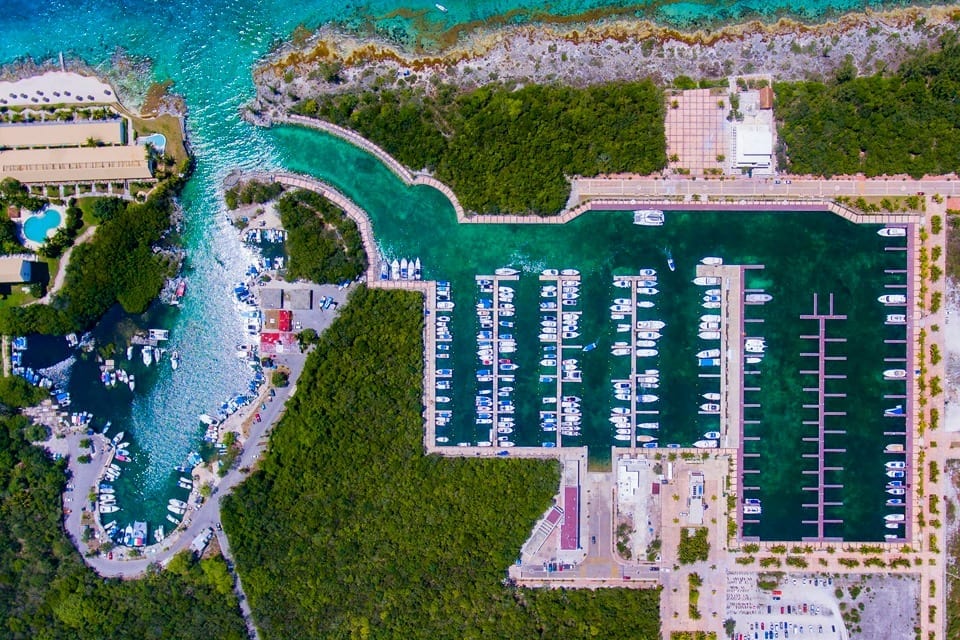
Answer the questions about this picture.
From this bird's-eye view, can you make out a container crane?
No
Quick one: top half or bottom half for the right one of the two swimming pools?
top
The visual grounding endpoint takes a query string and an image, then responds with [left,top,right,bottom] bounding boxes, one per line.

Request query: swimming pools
[136,133,168,156]
[17,203,68,250]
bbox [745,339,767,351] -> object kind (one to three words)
boat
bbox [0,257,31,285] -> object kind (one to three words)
house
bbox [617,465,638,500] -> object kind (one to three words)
building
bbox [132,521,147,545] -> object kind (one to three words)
ship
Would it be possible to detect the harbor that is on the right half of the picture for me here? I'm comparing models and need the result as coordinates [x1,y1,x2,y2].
[274,120,922,549]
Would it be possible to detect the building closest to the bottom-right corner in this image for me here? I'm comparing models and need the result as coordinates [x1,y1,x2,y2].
[688,472,704,524]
